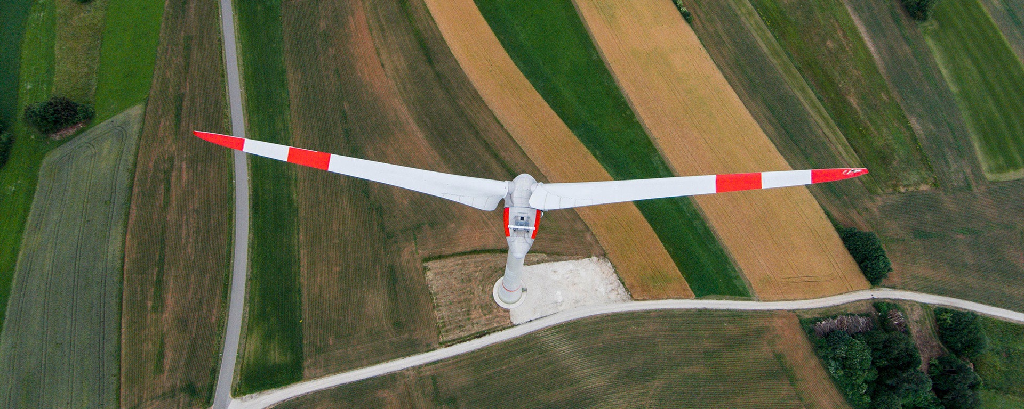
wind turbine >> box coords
[192,130,868,309]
